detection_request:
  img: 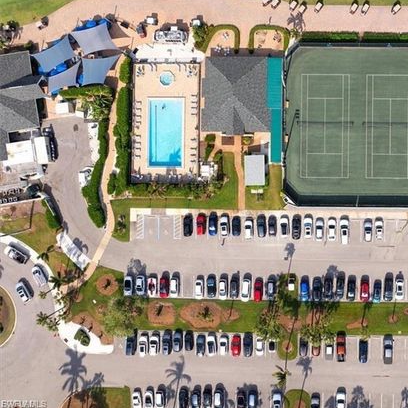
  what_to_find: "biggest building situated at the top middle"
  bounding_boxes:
[201,56,271,137]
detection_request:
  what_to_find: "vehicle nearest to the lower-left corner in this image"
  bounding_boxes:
[15,281,32,302]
